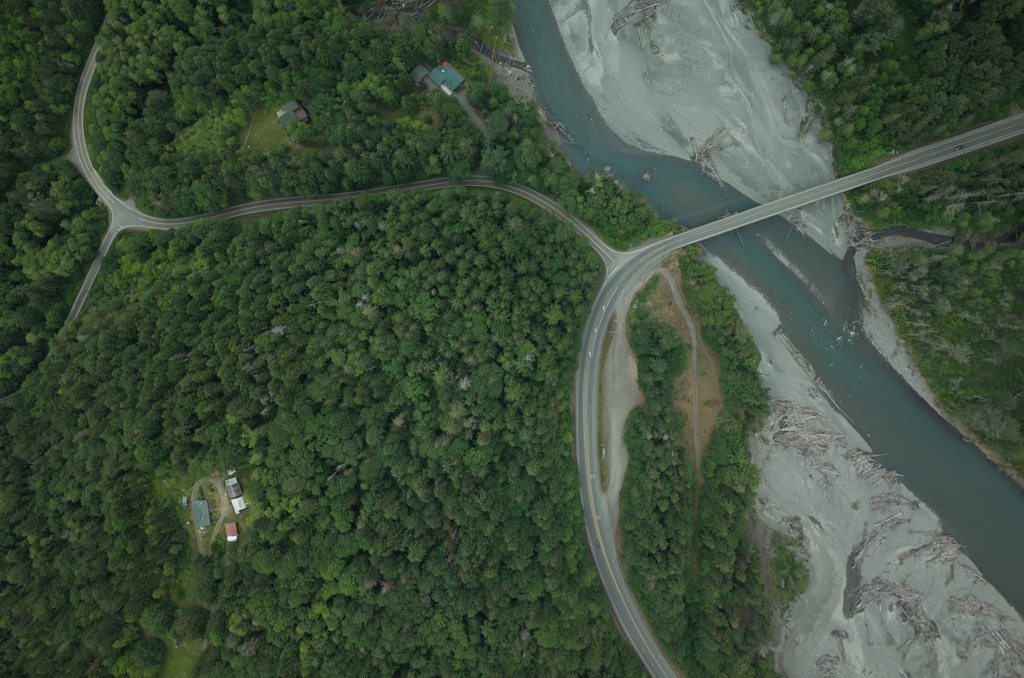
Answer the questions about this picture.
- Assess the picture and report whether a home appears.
Yes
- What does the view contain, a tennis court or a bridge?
bridge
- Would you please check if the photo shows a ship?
No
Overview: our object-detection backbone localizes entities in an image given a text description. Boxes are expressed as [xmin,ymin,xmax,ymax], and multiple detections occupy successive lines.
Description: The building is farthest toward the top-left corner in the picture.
[277,99,309,129]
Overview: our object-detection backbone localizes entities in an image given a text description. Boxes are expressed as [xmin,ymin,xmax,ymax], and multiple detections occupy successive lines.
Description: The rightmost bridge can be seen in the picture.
[672,174,850,251]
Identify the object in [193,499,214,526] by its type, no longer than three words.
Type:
house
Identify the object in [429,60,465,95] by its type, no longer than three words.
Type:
house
